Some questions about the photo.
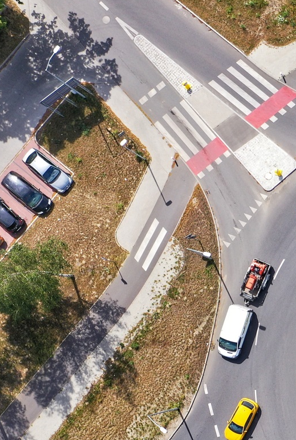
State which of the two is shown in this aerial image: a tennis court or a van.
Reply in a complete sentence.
There is a van in the scene.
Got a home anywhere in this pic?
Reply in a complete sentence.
No, no home can be seen from above.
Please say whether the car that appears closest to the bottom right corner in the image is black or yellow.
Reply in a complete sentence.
In this view, the car that appears closest to the bottom right corner is yellow.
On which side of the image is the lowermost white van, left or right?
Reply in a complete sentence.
The lowermost white van is on the right side of the image.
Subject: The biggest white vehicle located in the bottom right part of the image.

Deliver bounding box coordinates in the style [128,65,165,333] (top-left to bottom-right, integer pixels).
[215,304,253,360]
